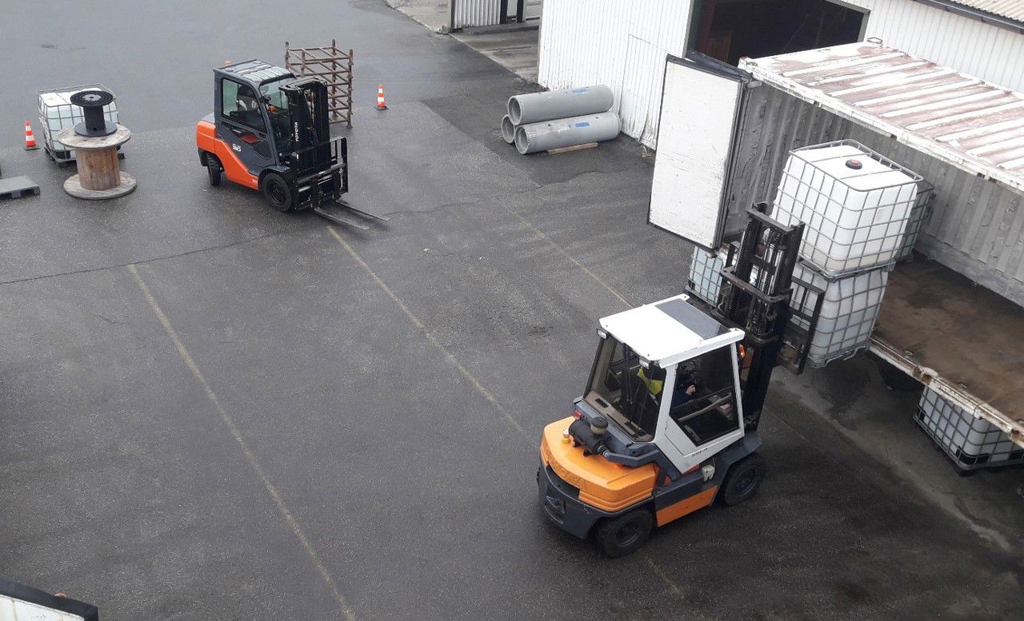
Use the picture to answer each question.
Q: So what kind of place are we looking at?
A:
industrial area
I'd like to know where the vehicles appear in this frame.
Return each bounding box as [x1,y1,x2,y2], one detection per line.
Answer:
[537,200,834,557]
[200,53,392,231]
